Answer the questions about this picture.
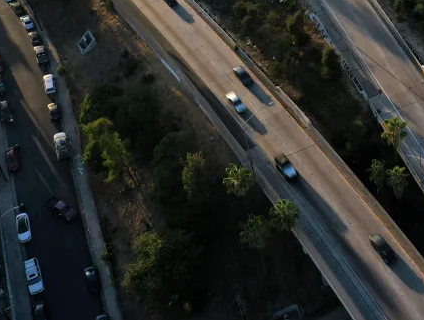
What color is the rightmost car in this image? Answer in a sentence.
The rightmost car is black.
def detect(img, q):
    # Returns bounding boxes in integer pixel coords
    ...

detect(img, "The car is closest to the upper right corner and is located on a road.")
[229,64,254,88]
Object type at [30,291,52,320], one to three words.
car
